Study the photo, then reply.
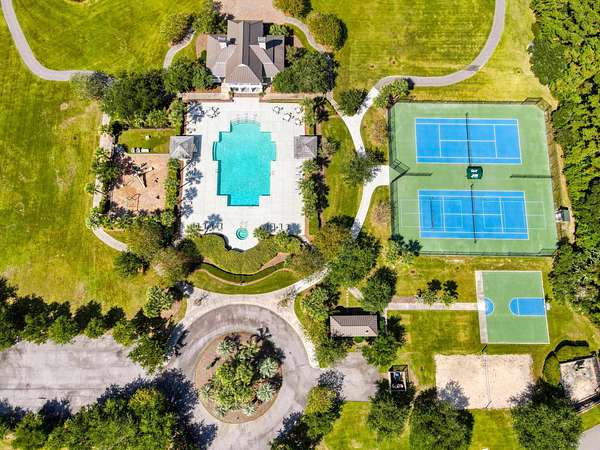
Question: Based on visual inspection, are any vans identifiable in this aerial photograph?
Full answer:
No, I can't see a single van in this photo.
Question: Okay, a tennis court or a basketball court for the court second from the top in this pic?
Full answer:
I'd say the court second from the top is a tennis court.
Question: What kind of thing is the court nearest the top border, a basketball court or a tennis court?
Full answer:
What you see as the court nearest the top border is a tennis court.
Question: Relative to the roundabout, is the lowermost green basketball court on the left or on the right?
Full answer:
The lowermost green basketball court appears to the right of the roundabout in this view.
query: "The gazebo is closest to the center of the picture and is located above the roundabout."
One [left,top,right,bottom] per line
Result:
[293,136,318,161]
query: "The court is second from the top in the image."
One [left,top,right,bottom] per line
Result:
[391,178,557,255]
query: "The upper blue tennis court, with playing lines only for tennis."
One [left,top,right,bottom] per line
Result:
[390,103,551,178]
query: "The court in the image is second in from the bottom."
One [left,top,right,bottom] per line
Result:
[476,271,550,344]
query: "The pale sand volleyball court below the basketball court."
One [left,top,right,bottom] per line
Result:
[436,353,533,410]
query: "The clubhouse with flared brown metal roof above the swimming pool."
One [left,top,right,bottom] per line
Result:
[206,19,284,98]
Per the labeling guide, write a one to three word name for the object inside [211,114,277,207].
swimming pool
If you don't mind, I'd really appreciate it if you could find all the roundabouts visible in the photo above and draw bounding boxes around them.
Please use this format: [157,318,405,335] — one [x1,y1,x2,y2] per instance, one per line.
[166,302,312,450]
